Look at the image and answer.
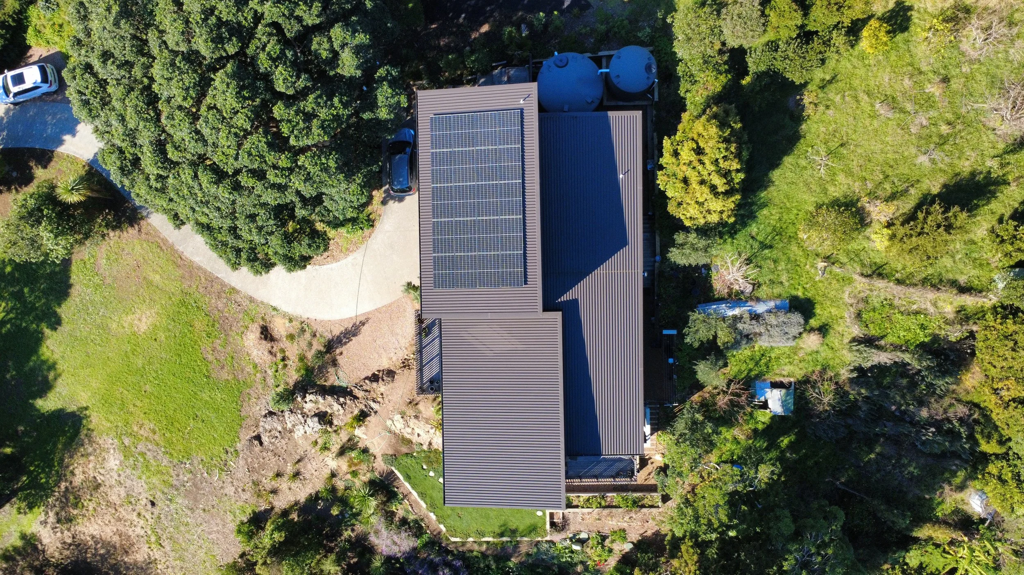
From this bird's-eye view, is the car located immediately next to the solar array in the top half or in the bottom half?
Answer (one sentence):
The top half of the photo is where the car located immediately next to the solar array is.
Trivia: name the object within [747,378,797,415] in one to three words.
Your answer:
shed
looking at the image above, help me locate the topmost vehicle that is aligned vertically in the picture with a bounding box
[382,126,416,195]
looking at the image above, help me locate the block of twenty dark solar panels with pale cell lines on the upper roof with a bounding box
[429,110,525,288]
